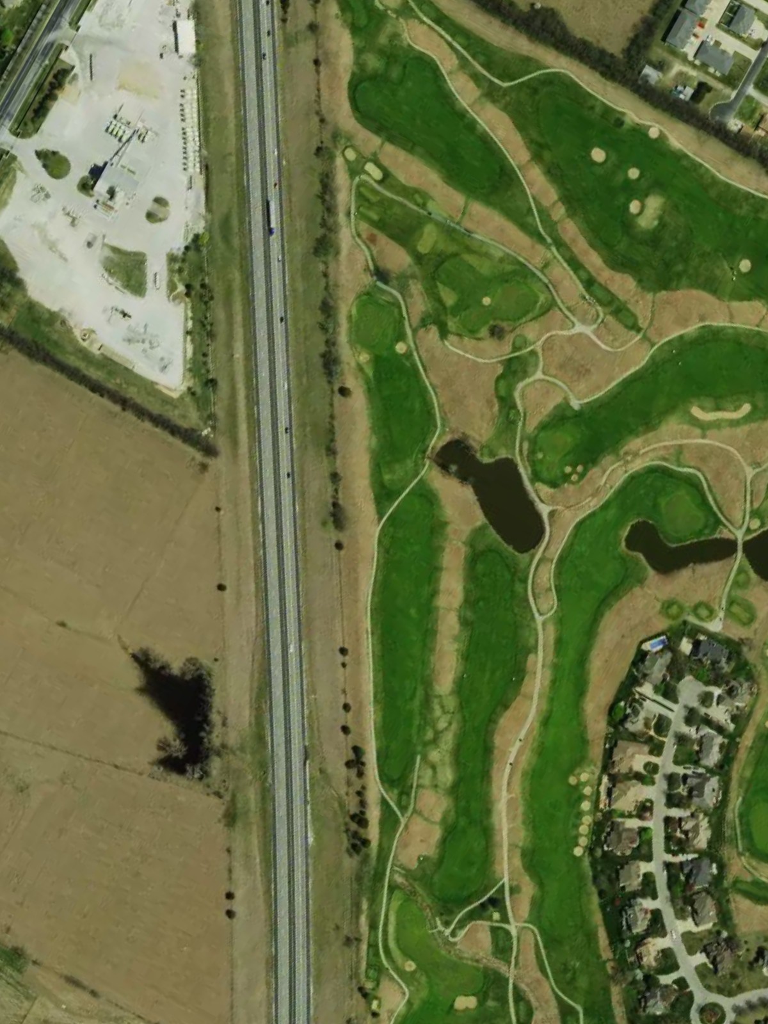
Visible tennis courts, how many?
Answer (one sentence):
The photo contains no tennis courts.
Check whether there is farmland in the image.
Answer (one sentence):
Yes, farmland shows up in the scene.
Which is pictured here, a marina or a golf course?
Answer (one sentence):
The picture captures a golf course.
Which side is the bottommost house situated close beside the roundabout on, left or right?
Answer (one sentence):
The bottommost house situated close beside the roundabout is on the right side of the image.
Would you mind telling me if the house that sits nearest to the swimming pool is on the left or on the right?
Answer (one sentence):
The house that sits nearest to the swimming pool is on the right side of the image.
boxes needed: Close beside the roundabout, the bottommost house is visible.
[640,984,681,1016]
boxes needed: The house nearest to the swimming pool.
[643,648,677,688]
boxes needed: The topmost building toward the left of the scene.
[175,19,194,53]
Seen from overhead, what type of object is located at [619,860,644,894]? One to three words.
house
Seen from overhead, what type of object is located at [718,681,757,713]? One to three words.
house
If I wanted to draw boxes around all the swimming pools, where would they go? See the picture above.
[644,634,668,650]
